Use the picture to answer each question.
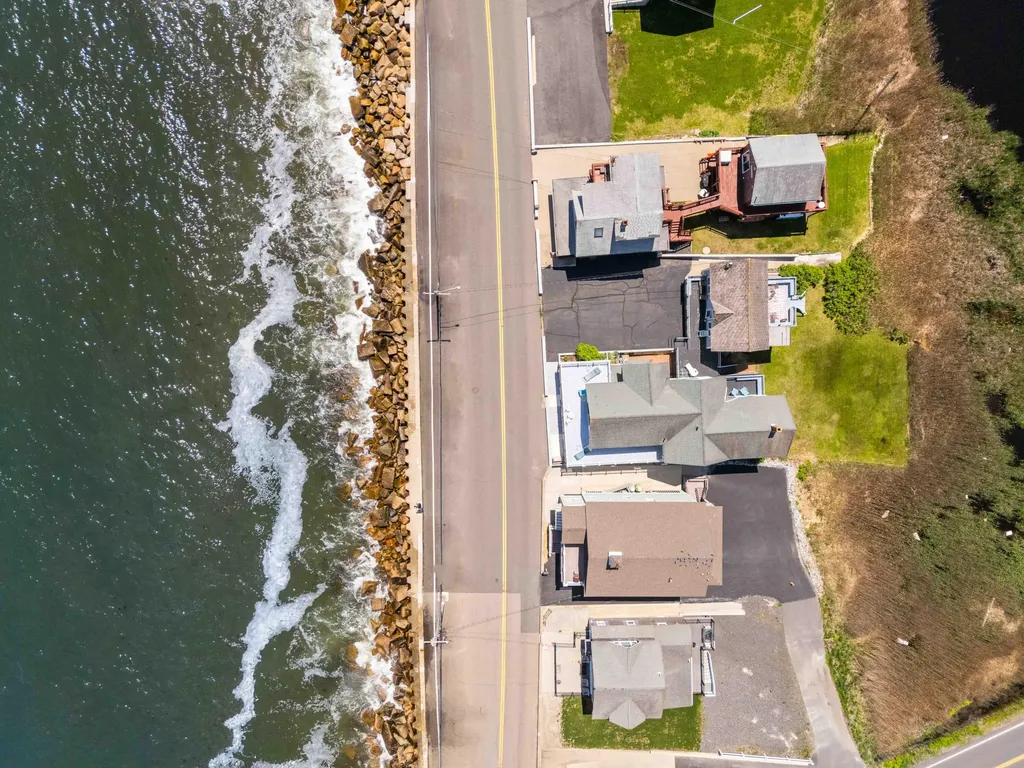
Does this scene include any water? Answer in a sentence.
Yes, water shows up in the scene.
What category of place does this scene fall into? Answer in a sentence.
It's a residential area.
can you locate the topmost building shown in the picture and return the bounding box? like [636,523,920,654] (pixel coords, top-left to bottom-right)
[605,0,650,39]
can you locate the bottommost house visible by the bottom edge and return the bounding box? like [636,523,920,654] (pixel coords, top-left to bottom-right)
[579,612,717,730]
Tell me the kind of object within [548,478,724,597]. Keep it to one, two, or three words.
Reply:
house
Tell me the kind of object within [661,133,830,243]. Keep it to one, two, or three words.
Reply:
house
